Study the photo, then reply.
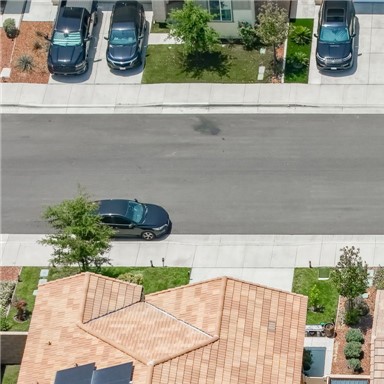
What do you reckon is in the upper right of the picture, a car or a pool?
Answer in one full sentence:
It is a car that can be seen in the upper right of the picture.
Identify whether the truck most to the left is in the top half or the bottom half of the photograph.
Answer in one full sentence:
You can find the truck most to the left in the top half.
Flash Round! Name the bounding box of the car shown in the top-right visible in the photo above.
[314,1,360,73]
